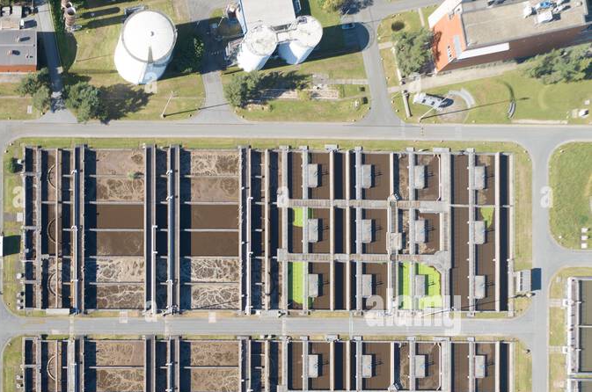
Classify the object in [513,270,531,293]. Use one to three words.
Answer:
house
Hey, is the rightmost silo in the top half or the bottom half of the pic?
top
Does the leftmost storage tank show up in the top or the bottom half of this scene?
top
